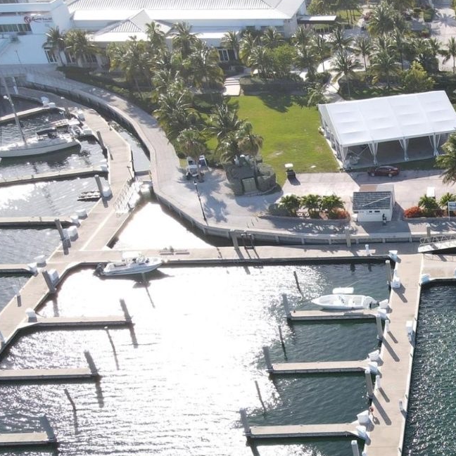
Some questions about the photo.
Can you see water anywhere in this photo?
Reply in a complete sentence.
Yes, water shows up in the scene.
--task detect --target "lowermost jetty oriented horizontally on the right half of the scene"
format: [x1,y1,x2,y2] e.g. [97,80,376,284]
[246,412,367,449]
